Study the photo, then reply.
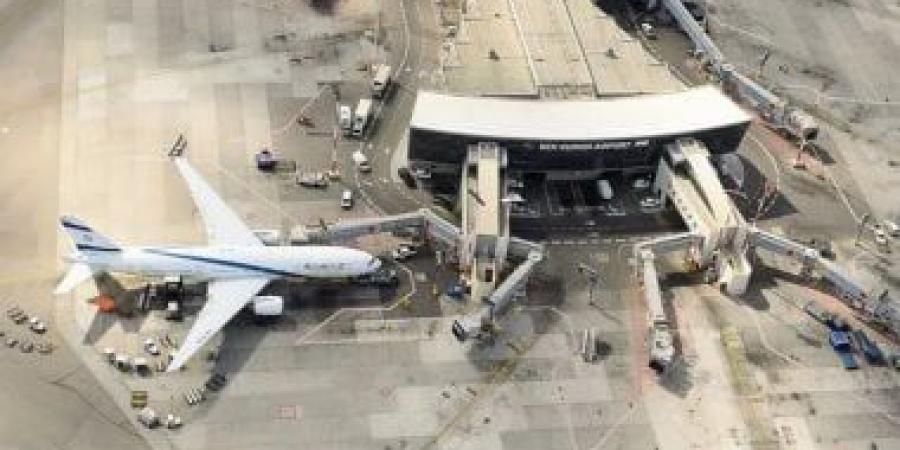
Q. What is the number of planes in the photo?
1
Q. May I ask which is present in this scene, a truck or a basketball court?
truck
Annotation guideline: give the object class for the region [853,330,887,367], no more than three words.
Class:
truck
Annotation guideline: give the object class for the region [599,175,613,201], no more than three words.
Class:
vehicle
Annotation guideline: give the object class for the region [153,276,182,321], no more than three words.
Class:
work vehicle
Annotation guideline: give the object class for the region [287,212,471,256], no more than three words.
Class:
jet bridge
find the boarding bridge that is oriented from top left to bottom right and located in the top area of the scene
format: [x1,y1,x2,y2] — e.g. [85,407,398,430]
[655,0,819,143]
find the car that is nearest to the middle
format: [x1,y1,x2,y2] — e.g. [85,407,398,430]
[427,196,450,212]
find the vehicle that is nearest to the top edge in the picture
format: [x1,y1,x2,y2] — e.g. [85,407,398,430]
[685,0,709,22]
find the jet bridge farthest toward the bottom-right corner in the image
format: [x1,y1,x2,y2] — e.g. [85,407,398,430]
[750,230,900,335]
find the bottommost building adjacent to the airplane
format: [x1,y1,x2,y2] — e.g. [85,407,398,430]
[398,85,750,194]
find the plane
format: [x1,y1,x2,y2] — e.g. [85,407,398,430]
[51,156,384,370]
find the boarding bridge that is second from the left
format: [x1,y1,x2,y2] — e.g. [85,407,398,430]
[451,237,550,350]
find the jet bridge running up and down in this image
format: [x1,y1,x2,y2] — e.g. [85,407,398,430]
[636,234,694,372]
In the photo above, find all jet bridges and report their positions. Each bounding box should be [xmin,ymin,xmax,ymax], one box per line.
[750,230,900,335]
[287,212,471,256]
[636,234,694,372]
[655,0,819,143]
[451,237,550,350]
